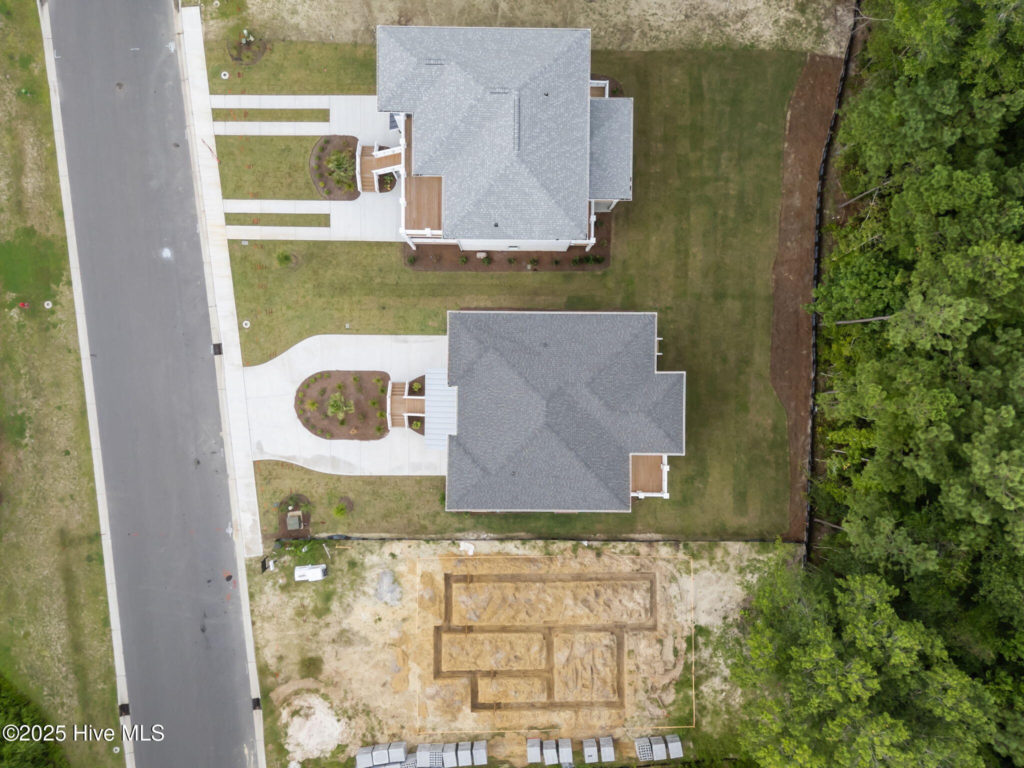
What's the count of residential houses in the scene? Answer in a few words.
2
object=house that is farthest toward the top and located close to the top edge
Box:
[357,26,633,253]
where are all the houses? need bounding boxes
[357,26,633,253]
[387,311,685,512]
